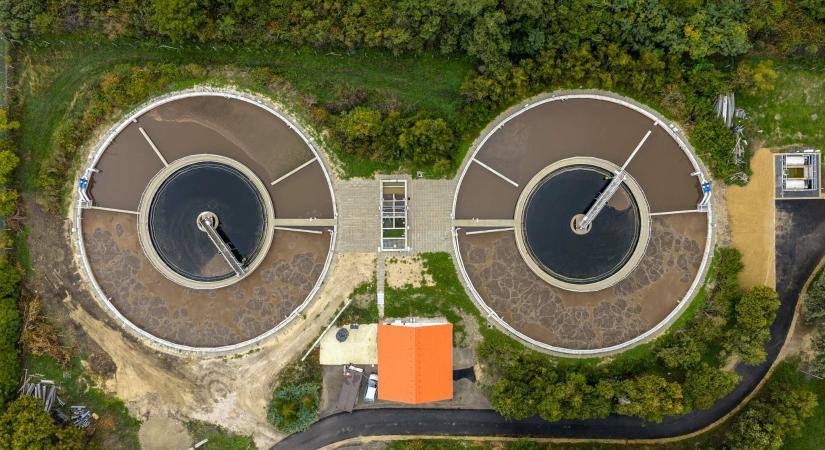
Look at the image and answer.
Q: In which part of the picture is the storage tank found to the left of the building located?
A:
left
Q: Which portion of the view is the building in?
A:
bottom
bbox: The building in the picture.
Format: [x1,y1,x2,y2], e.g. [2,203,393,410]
[377,320,454,408]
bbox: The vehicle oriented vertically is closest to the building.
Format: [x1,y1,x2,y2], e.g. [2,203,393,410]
[364,375,377,403]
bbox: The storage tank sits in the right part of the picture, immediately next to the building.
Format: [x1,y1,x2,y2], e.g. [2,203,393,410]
[447,89,720,359]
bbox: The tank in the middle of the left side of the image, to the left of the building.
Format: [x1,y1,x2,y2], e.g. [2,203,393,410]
[72,85,343,356]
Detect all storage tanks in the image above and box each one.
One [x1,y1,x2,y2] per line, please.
[447,89,720,359]
[72,85,343,356]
